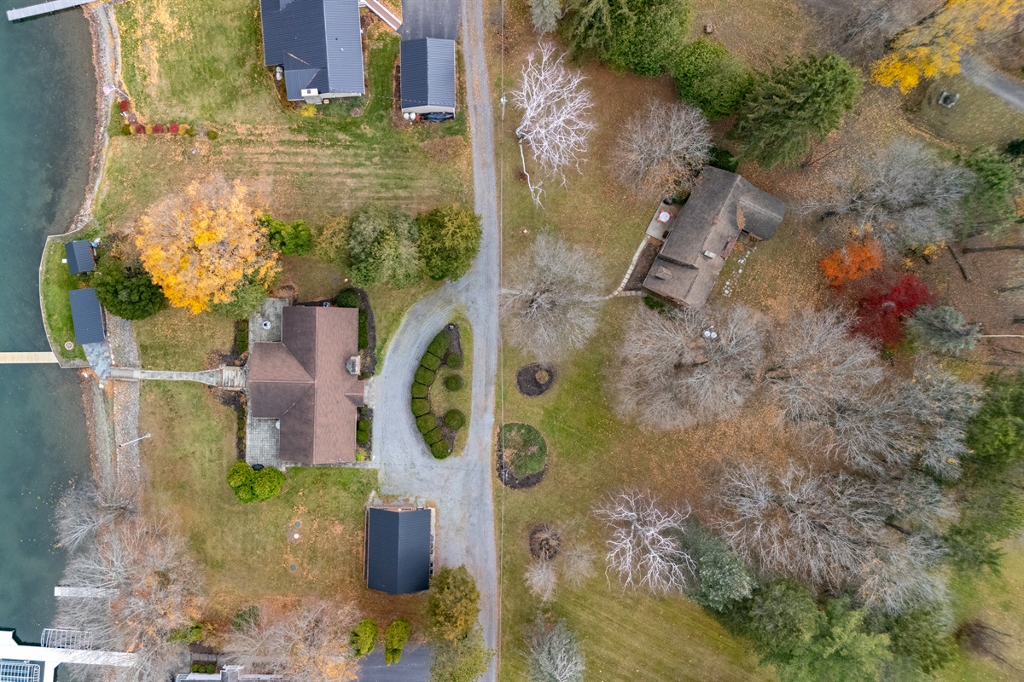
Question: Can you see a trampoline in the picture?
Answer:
No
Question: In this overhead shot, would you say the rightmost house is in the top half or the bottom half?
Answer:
top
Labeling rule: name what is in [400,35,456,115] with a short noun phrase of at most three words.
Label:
building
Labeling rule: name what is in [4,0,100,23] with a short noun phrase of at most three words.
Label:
pier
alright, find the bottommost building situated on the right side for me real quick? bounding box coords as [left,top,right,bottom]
[642,165,786,308]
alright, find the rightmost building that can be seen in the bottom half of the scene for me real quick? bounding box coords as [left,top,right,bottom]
[367,504,433,595]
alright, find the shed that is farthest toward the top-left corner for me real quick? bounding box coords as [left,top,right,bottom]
[65,240,97,274]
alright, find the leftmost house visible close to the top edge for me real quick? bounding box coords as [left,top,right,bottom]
[259,0,367,107]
